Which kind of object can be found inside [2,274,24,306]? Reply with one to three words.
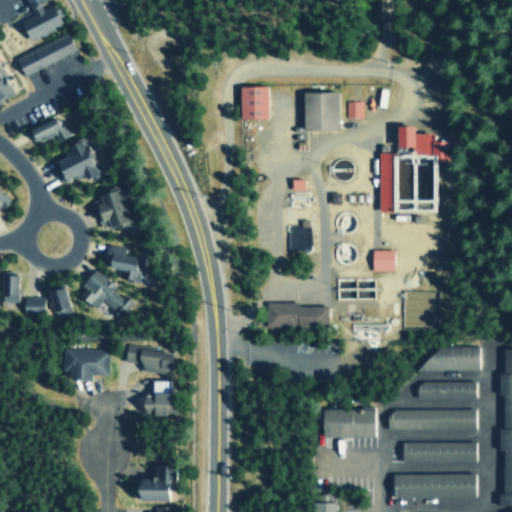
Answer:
house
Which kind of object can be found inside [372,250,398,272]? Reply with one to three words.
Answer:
building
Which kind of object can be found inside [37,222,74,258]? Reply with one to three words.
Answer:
roundabout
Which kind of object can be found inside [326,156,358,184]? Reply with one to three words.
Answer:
storage tank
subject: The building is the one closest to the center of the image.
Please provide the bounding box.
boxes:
[288,218,314,254]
